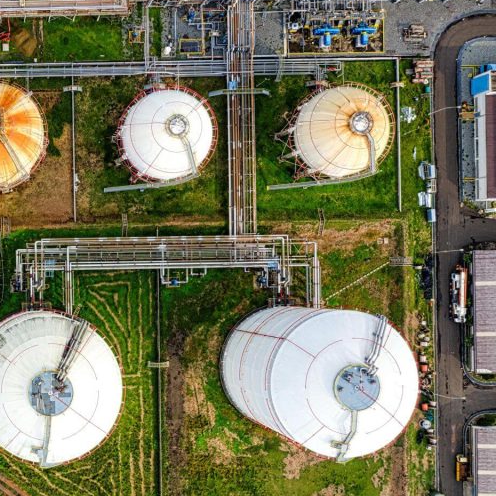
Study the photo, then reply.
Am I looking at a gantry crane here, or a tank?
tank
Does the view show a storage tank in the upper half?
Yes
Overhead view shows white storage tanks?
Yes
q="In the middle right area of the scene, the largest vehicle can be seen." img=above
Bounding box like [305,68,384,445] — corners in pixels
[441,266,467,324]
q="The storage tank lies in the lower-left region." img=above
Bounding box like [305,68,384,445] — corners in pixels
[0,308,124,469]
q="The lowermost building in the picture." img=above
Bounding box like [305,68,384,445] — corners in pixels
[465,424,496,496]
